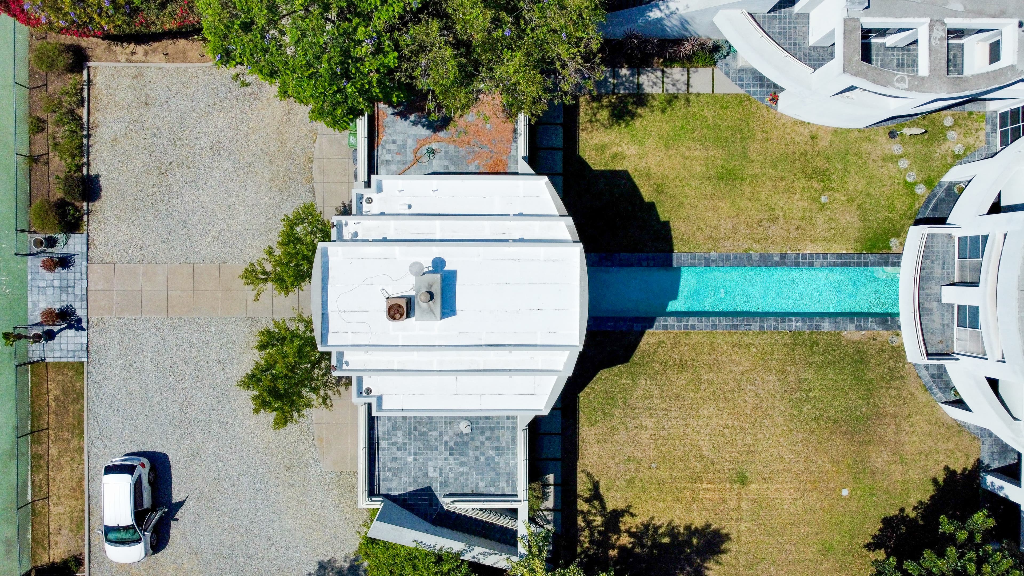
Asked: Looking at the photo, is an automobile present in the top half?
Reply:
No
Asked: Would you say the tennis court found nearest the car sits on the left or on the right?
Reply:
left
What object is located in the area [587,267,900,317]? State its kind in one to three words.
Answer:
swimming pool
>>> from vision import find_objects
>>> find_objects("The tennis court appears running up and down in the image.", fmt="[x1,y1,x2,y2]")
[0,0,31,576]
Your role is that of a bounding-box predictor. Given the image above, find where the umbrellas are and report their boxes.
[888,127,926,139]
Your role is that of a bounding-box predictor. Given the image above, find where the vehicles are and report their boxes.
[98,454,167,564]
